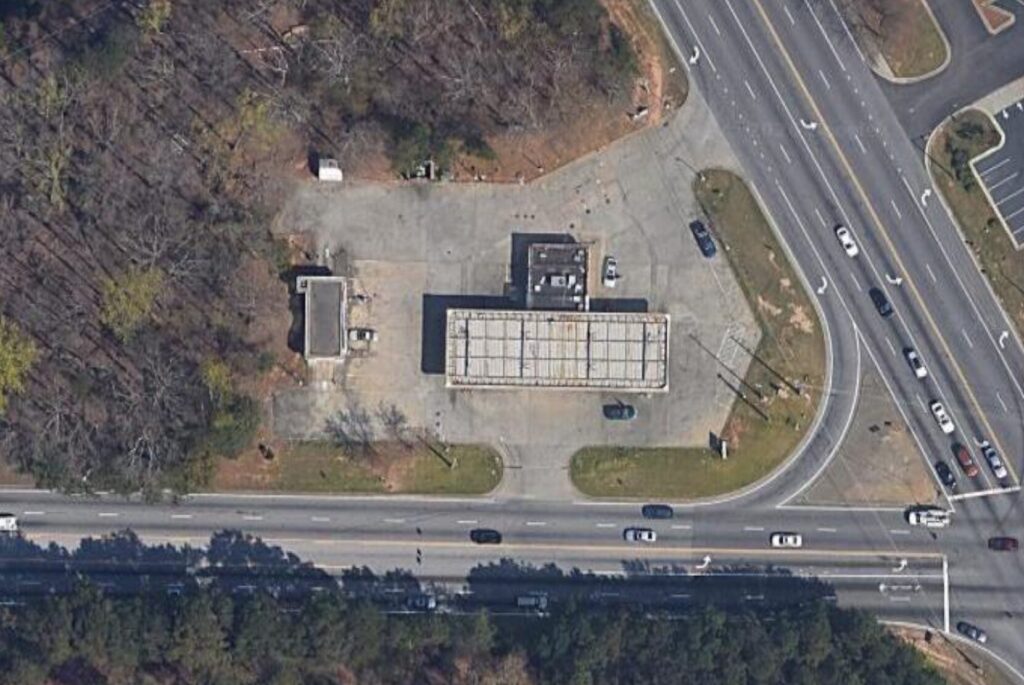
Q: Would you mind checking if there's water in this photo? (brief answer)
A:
No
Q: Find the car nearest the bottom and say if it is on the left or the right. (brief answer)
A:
right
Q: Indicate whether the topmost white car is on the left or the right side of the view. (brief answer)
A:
right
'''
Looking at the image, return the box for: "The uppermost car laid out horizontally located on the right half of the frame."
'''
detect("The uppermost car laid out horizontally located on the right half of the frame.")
[604,405,635,419]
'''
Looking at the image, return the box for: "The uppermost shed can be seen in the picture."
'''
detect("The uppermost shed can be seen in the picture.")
[317,156,342,182]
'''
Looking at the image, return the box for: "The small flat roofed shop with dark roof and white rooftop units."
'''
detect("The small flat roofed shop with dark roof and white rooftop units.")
[527,245,594,312]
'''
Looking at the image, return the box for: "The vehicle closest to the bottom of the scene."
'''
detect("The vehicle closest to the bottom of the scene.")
[956,621,986,643]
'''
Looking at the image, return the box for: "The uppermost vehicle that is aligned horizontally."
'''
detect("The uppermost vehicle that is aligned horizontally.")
[349,329,378,342]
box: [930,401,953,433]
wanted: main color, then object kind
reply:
white car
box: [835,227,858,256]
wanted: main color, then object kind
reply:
white car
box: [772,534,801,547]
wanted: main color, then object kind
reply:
white vehicle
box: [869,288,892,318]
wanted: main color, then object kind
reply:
black car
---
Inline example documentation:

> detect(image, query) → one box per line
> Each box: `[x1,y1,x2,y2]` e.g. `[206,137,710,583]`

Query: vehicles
[930,401,953,433]
[0,515,20,531]
[904,348,927,378]
[835,227,858,256]
[604,405,635,419]
[349,329,378,342]
[471,530,501,544]
[869,288,892,318]
[625,529,656,542]
[772,534,801,547]
[907,510,949,526]
[988,537,1018,551]
[956,621,986,643]
[642,504,673,518]
[604,257,621,286]
[690,221,715,257]
[953,444,978,476]
[981,445,1006,478]
[934,459,957,489]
